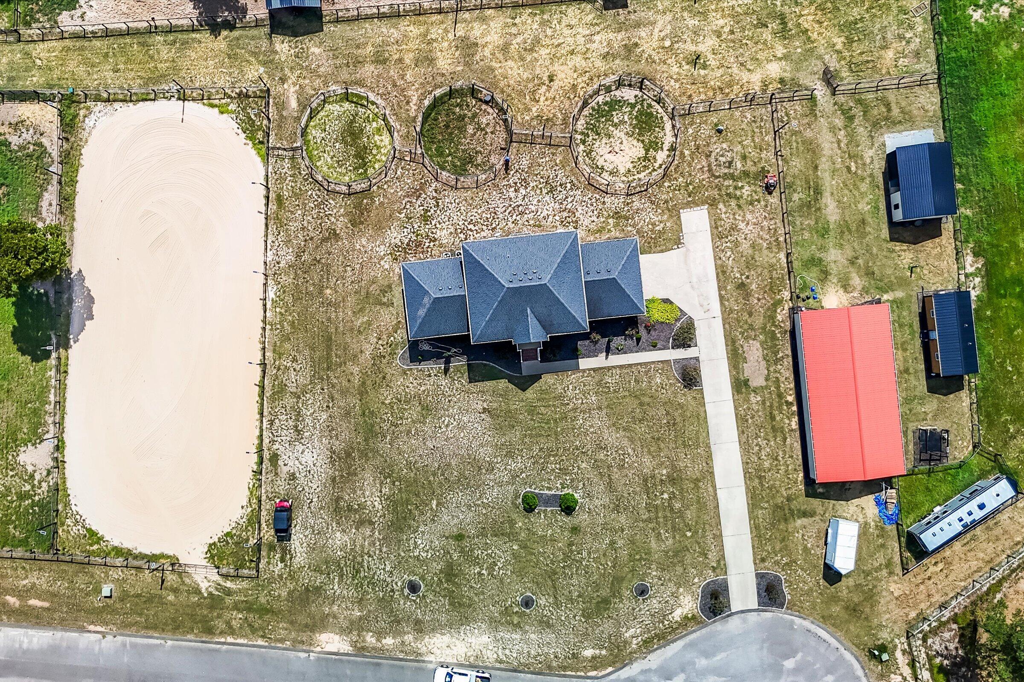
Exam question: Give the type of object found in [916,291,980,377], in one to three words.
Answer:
building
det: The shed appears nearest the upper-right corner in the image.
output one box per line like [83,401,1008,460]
[884,129,957,222]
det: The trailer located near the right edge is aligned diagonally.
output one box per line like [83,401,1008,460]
[906,473,1016,552]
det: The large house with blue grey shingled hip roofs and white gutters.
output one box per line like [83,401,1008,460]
[400,229,647,361]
